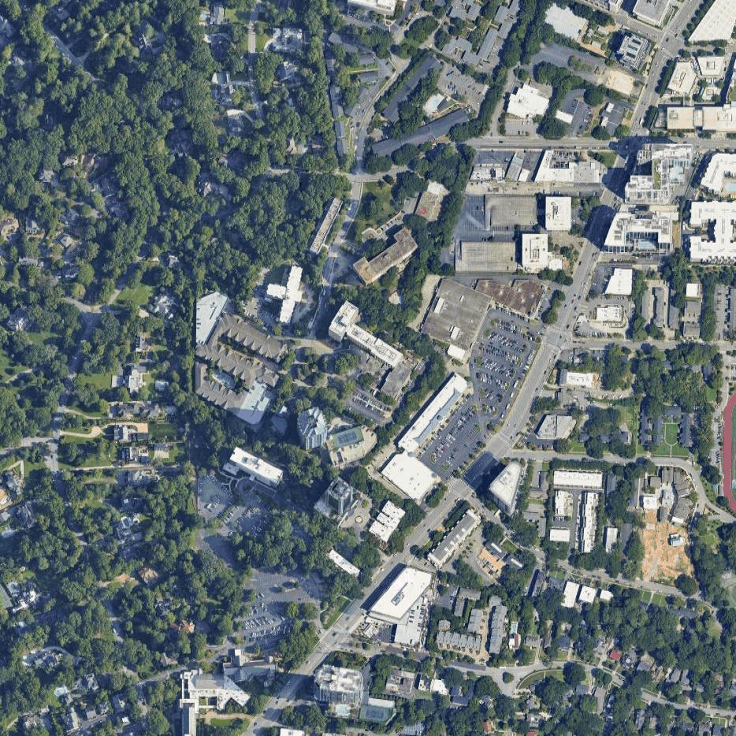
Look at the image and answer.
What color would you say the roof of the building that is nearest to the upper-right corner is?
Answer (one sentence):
From above, the roof of the building that is nearest to the upper-right corner looks white.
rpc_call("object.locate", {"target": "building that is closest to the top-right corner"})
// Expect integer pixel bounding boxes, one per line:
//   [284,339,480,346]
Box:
[690,0,736,43]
